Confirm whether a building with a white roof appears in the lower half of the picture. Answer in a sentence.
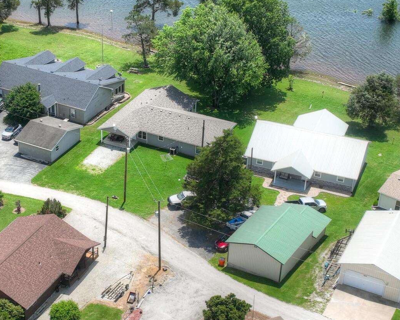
Yes, the scene does show a building with a white roof in the lower half of the picture.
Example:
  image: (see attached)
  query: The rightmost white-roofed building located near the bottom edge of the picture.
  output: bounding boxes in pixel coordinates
[335,208,400,304]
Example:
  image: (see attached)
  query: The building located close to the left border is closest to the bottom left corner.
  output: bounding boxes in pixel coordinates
[0,213,108,320]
